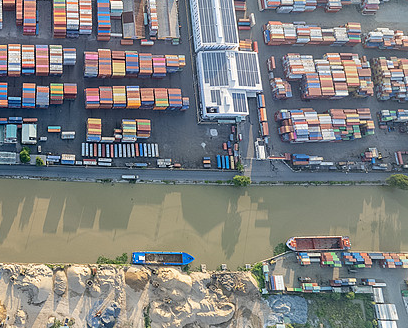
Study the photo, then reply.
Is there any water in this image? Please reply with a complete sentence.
Yes, the picture does contain water.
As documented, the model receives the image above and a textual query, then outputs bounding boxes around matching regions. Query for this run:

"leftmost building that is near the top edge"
[120,0,141,41]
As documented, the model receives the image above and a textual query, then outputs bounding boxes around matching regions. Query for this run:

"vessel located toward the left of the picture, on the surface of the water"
[130,250,194,265]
